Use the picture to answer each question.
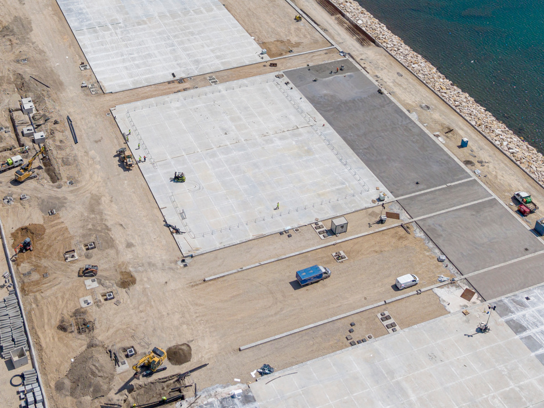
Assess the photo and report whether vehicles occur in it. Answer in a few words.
Yes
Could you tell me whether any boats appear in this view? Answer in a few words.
No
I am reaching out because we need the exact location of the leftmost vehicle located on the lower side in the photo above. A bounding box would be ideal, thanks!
[9,239,33,262]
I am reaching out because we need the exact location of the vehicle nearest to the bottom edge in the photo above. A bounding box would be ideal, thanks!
[115,346,171,382]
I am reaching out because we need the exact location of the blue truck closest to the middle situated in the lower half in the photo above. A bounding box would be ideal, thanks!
[294,260,329,285]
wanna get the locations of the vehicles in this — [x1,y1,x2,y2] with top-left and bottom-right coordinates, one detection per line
[74,263,99,278]
[9,239,33,262]
[119,148,139,172]
[115,346,171,382]
[0,152,24,170]
[514,187,542,208]
[16,143,49,180]
[169,170,187,184]
[393,272,421,289]
[292,14,302,22]
[294,260,329,285]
